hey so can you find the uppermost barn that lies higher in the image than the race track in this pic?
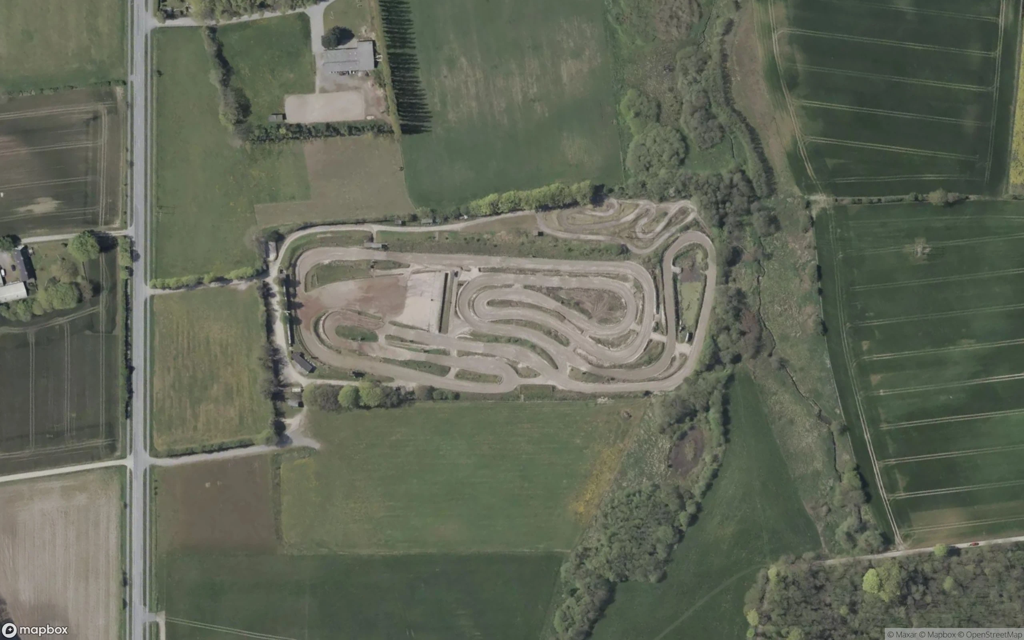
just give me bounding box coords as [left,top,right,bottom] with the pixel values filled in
[322,40,374,71]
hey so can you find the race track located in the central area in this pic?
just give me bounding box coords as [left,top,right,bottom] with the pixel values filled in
[296,231,701,393]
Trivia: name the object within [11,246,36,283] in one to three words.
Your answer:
house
